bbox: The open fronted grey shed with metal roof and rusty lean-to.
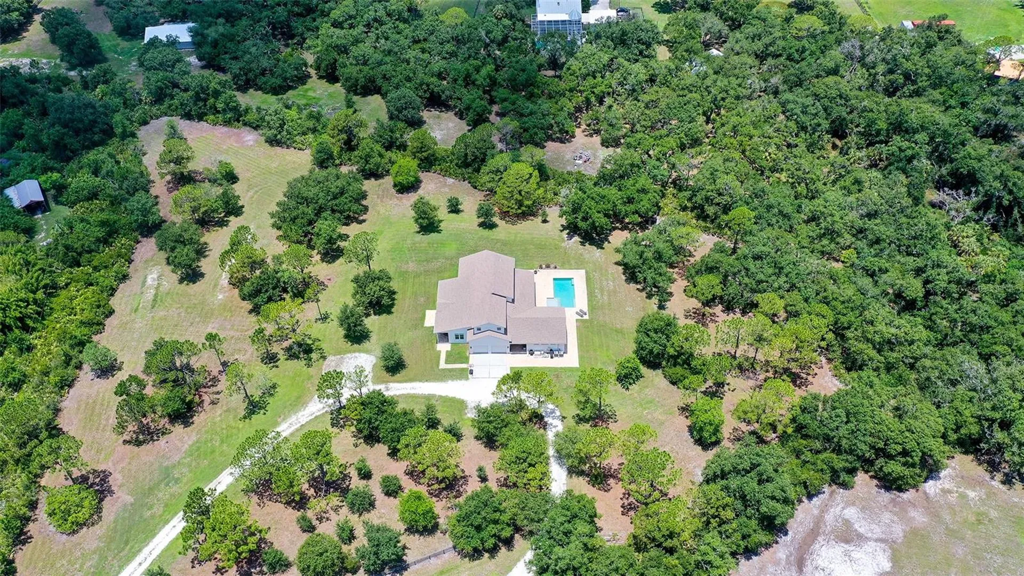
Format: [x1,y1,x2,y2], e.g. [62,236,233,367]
[2,180,52,223]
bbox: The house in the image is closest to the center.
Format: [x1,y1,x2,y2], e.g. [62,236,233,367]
[434,251,568,354]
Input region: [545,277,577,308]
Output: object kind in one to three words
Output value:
swimming pool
